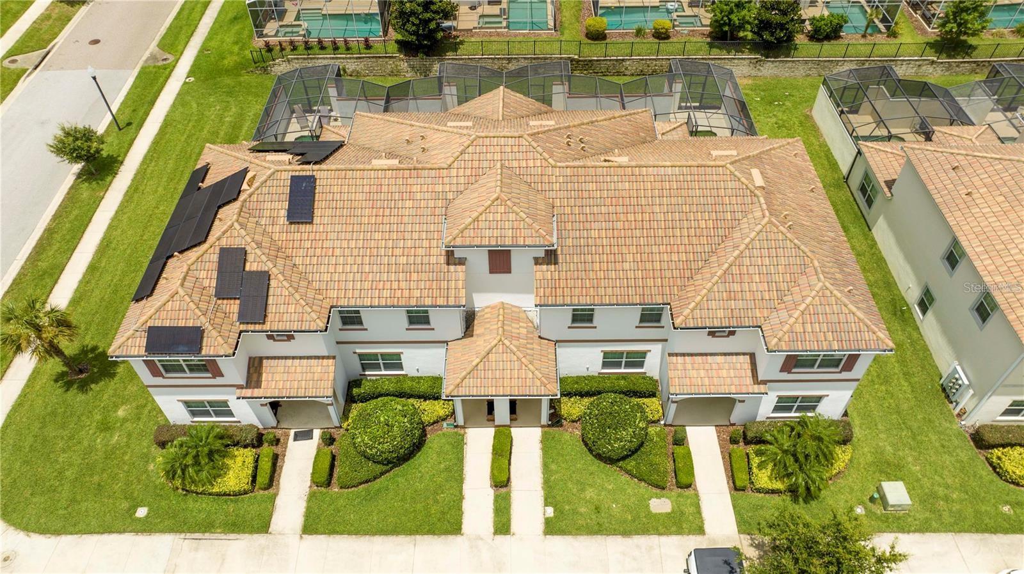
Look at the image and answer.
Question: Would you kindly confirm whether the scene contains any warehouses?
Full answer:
No, no warehouse can be seen from above.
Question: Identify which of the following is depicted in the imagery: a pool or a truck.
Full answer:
The image shows a pool.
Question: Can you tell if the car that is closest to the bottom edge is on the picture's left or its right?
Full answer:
The car that is closest to the bottom edge is on the right side of the image.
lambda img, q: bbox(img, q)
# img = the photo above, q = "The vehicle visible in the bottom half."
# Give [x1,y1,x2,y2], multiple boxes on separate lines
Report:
[685,548,746,574]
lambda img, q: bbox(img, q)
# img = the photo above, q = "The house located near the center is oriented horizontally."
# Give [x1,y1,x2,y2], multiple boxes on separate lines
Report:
[106,84,896,430]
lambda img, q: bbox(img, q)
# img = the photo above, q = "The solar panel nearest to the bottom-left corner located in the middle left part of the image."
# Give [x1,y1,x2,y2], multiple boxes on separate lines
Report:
[143,323,200,350]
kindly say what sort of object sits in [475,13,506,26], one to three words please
swimming pool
